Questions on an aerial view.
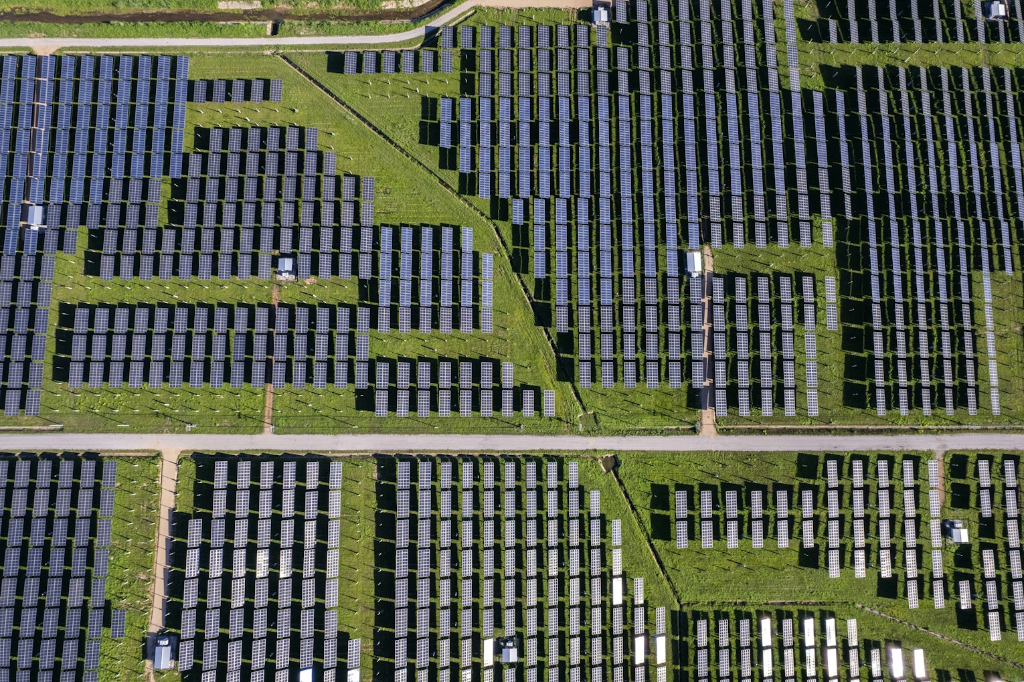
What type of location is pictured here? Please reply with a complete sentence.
This looks like a solar farm.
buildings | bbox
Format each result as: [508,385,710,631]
[278,258,294,271]
[593,9,607,25]
[28,206,45,226]
[685,252,701,273]
[947,528,968,543]
[154,643,175,670]
[502,645,517,663]
[985,4,1005,20]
